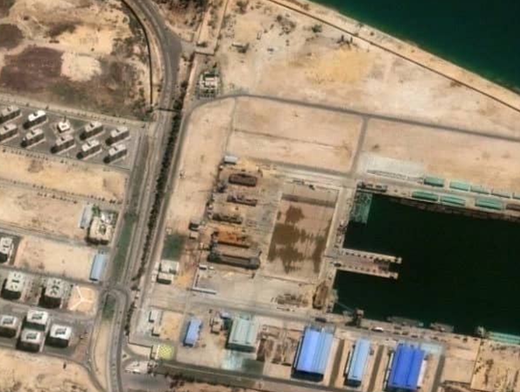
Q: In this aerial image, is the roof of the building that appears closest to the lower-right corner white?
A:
No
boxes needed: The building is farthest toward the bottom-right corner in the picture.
[387,343,428,392]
